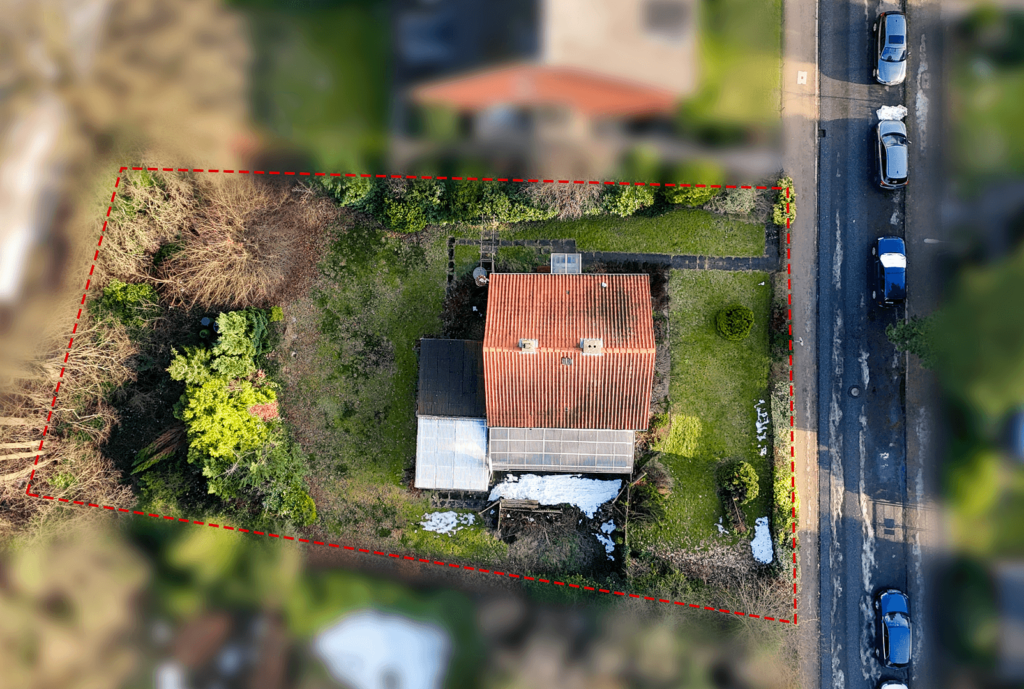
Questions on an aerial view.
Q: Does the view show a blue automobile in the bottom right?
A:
Yes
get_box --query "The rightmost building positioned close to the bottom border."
[319,600,453,689]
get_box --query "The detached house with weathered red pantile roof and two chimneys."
[484,253,659,473]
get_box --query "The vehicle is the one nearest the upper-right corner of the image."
[873,10,913,86]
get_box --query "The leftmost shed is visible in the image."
[174,592,251,674]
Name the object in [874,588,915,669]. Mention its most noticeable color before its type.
blue car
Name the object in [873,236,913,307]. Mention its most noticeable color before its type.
blue car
